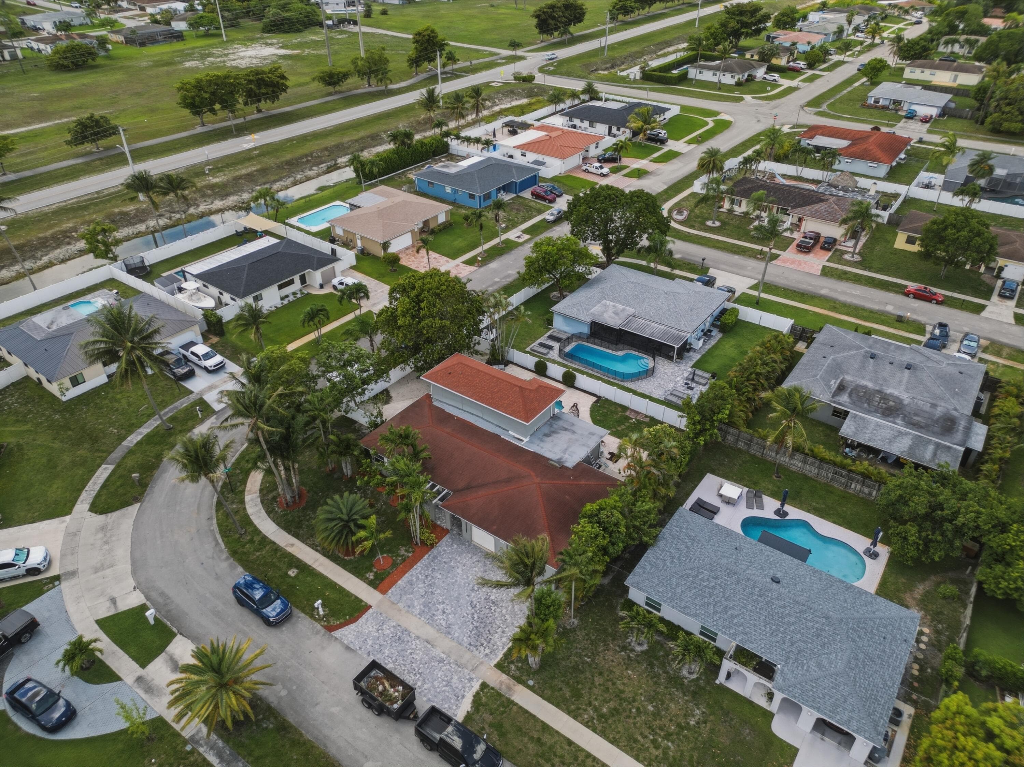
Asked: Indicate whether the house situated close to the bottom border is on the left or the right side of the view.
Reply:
right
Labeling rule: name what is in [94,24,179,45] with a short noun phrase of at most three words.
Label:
house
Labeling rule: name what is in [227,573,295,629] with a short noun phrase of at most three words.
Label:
car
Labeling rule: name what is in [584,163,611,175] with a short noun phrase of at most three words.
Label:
vehicle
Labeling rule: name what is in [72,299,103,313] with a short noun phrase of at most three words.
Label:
swimming pool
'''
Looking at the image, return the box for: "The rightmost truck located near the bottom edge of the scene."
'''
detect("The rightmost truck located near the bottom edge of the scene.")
[410,705,507,767]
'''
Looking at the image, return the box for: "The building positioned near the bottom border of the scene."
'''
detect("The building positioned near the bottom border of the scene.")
[621,509,922,767]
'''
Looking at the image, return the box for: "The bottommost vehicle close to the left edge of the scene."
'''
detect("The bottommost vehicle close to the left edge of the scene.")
[1,677,80,734]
